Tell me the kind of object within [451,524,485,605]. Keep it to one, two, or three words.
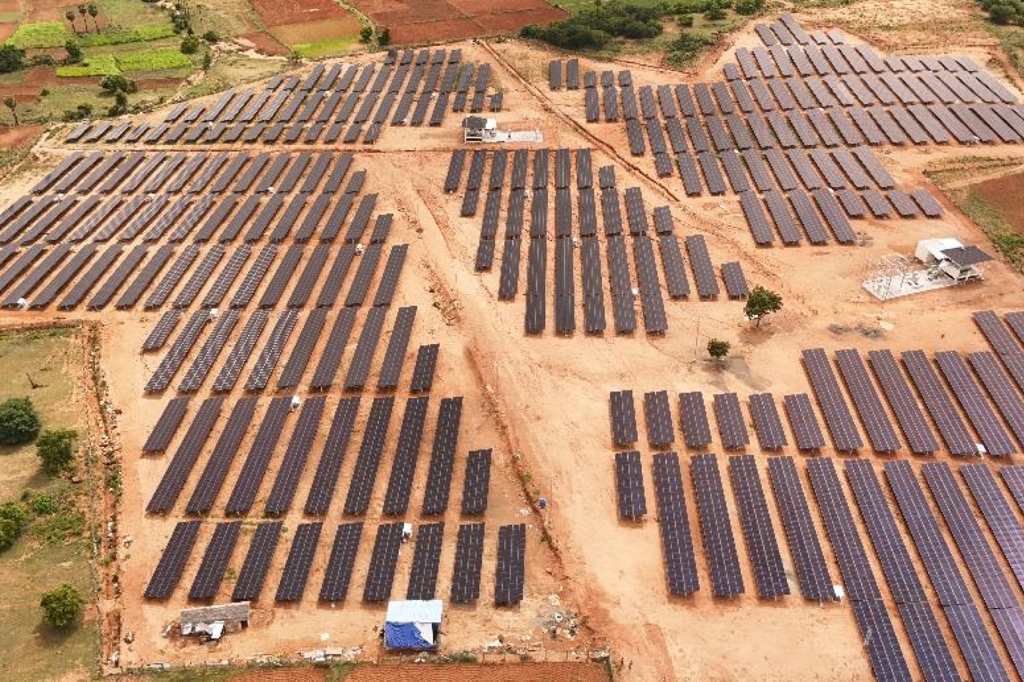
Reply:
solar array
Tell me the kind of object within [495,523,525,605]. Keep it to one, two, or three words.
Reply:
solar array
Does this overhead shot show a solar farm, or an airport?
solar farm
